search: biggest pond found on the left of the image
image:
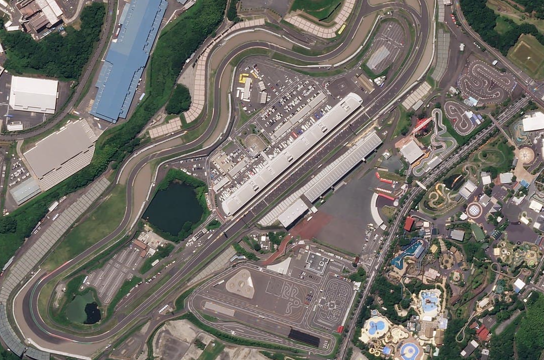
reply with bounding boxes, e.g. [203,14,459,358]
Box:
[144,182,205,236]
